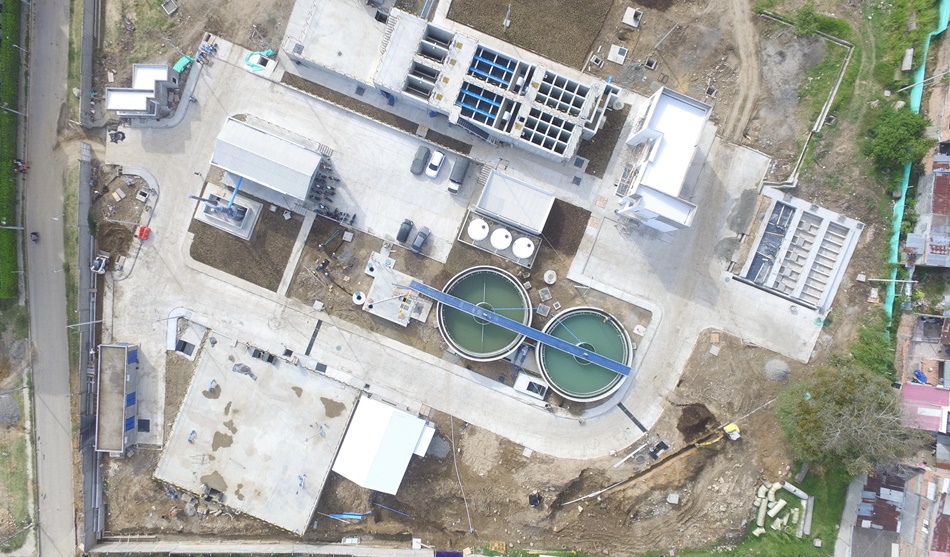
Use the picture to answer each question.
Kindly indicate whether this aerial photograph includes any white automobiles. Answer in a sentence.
Yes, the frame does contain a white automobile.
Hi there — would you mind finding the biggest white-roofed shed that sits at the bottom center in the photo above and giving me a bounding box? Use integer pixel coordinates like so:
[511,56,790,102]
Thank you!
[331,394,437,494]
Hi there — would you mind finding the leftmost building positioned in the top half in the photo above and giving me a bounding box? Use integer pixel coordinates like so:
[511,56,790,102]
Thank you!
[107,64,181,117]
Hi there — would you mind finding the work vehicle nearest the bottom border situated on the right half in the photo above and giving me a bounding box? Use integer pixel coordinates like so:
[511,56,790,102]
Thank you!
[705,423,743,443]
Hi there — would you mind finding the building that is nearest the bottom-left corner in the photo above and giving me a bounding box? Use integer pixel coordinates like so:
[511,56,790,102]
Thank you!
[95,342,160,460]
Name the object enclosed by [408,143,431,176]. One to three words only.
car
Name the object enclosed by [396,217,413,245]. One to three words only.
car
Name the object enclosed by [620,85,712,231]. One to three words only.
building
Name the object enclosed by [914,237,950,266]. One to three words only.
house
